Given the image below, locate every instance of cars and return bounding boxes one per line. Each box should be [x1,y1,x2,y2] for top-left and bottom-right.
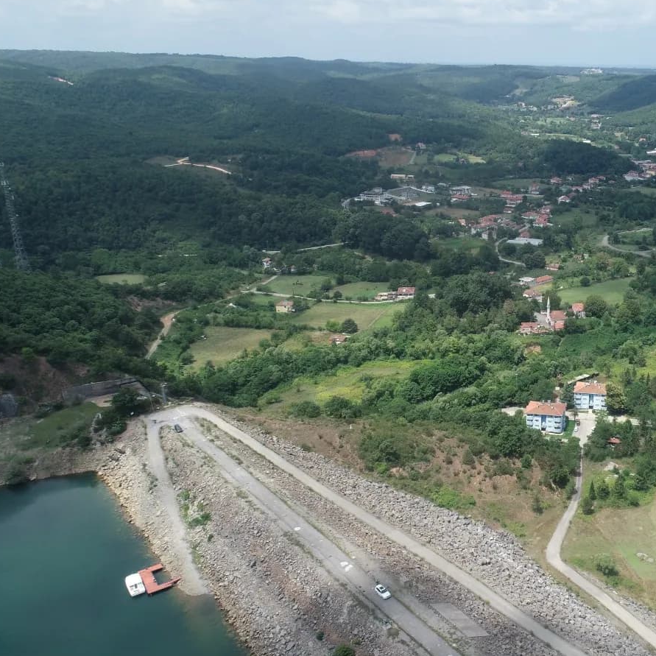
[174,421,183,432]
[573,424,580,430]
[575,418,581,424]
[372,581,392,600]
